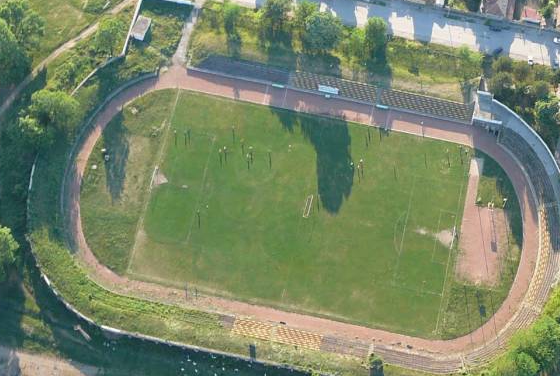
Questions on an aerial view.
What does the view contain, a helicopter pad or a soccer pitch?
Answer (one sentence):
Looking from above, you can make out a soccer pitch.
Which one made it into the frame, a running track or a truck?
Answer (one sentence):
There is a running track in the scene.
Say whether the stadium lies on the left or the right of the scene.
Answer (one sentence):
It is on the right.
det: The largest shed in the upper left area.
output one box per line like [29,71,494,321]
[132,16,151,41]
